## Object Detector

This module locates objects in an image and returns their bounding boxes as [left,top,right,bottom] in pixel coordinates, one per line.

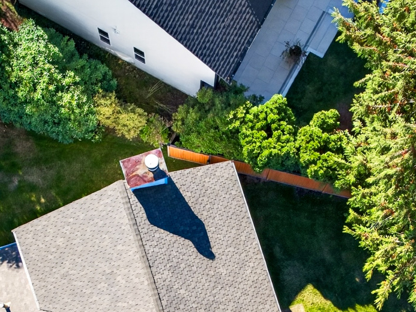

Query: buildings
[0,146,286,312]
[16,0,273,108]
